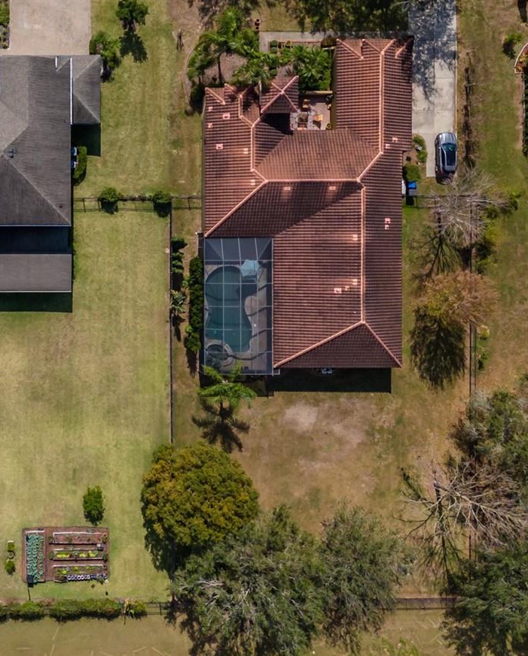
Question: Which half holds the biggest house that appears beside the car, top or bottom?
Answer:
top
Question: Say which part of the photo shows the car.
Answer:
top right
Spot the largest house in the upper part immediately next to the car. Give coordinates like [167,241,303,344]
[203,33,414,368]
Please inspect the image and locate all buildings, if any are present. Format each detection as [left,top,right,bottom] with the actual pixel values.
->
[0,51,100,225]
[203,33,414,368]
